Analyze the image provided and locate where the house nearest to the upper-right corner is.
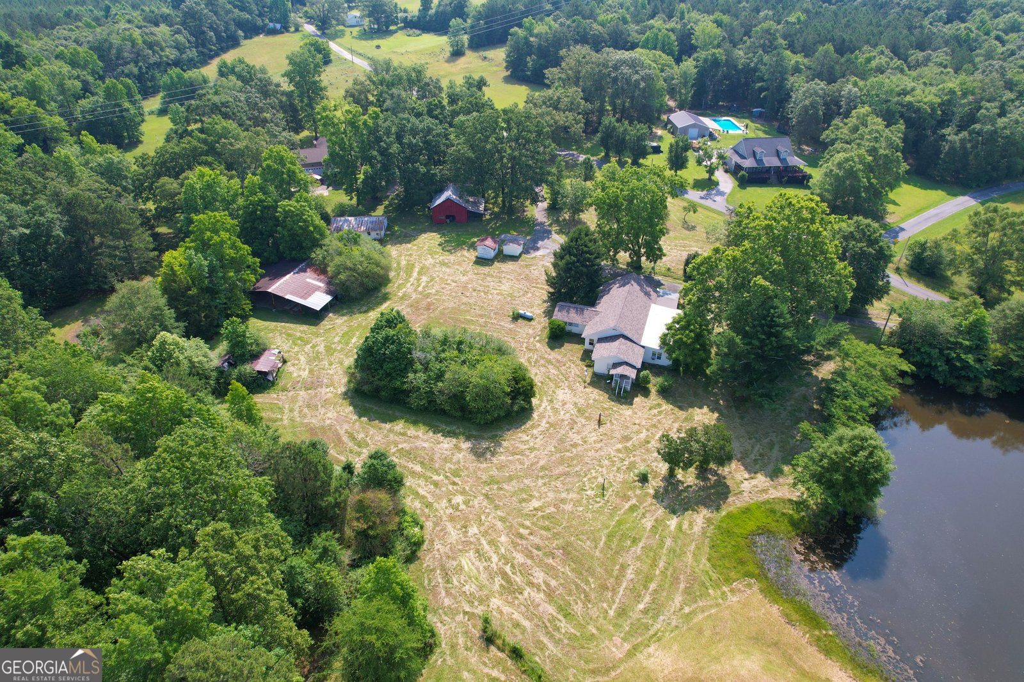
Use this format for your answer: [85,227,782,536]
[728,136,811,180]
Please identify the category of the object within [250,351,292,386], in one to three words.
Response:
shed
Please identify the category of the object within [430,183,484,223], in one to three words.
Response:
barn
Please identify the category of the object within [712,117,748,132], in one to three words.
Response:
swimming pool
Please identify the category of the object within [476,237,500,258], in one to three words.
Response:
shed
